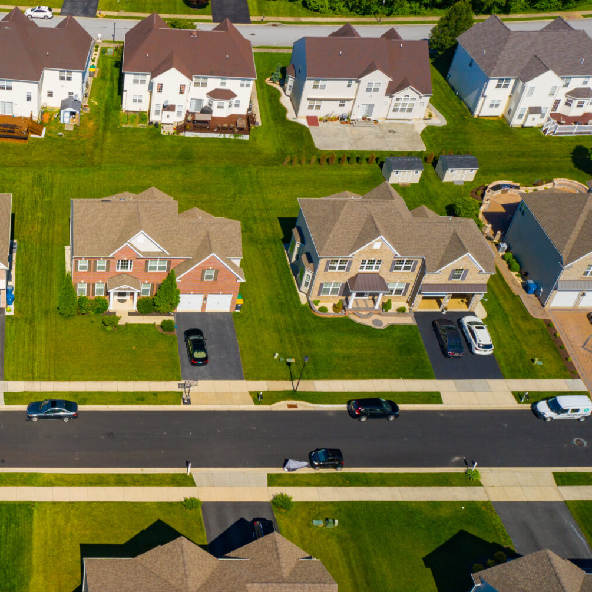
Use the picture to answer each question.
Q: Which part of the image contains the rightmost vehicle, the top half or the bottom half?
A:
bottom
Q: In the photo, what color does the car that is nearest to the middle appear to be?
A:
black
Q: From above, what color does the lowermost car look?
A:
black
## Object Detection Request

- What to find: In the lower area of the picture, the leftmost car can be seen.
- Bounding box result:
[27,399,80,424]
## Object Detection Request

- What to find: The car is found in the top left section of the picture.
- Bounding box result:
[25,6,54,20]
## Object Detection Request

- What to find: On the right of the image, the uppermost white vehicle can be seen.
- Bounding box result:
[459,319,494,355]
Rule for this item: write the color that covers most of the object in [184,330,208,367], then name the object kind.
black car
